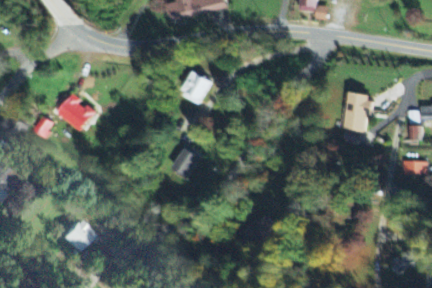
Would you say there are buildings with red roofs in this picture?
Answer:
Yes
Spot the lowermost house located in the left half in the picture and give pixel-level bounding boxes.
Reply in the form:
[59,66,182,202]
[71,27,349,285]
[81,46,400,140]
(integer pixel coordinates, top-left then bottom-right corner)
[65,221,97,252]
